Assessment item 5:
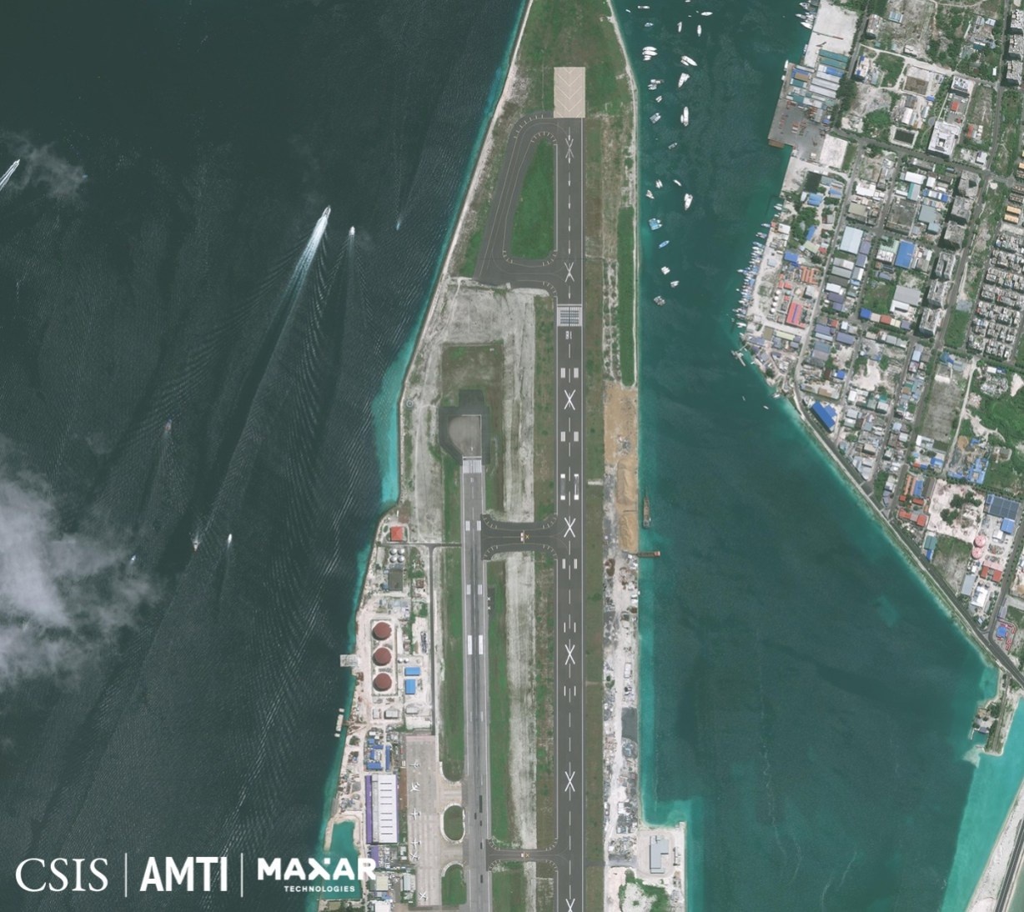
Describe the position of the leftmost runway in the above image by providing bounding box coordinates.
[460,457,493,912]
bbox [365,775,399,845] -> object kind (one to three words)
hangar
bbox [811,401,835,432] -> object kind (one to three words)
building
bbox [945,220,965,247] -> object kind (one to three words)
building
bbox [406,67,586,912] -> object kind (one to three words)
airport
